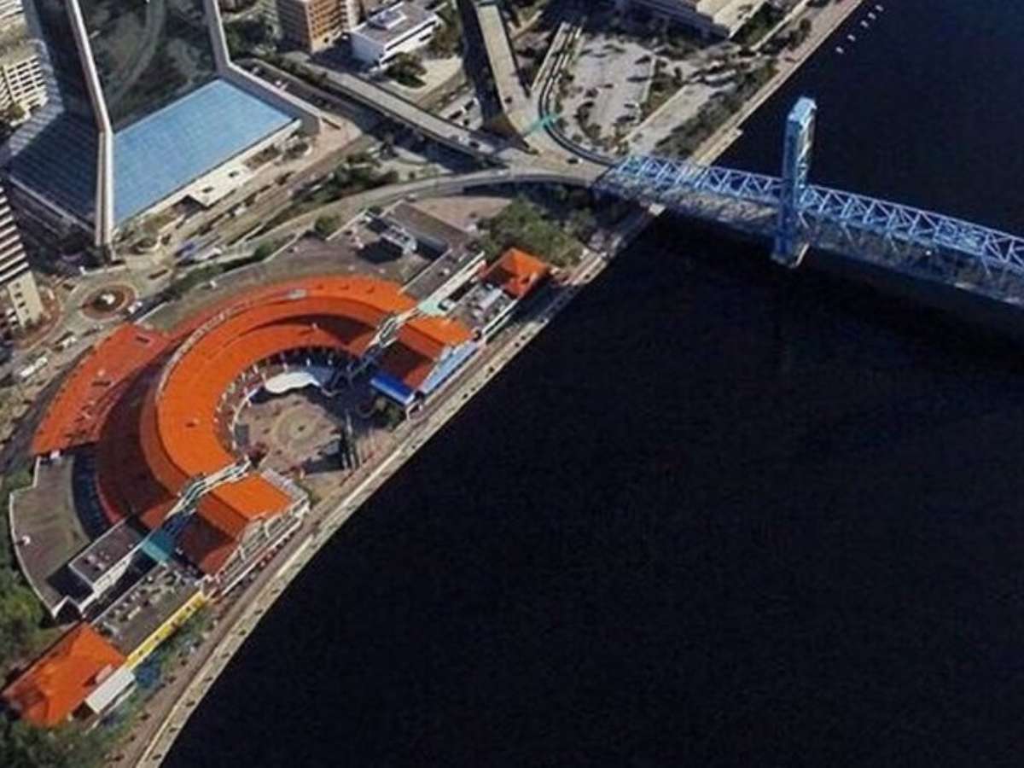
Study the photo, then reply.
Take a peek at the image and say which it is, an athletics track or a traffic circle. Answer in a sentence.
Looking from above, you can make out a traffic circle.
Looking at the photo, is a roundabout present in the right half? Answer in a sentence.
No, the scene shows no roundabout in the right half.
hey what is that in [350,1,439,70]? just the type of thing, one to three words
building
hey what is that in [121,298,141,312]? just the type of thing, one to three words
vehicle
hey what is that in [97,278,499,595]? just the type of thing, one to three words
building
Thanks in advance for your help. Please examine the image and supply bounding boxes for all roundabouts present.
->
[50,264,166,338]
